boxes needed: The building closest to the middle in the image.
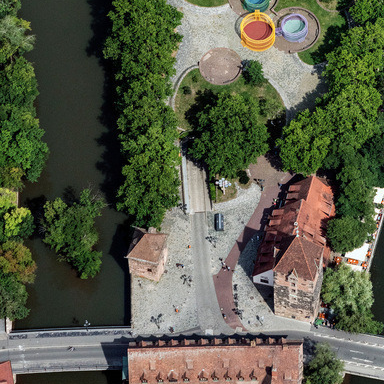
[126,228,169,279]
